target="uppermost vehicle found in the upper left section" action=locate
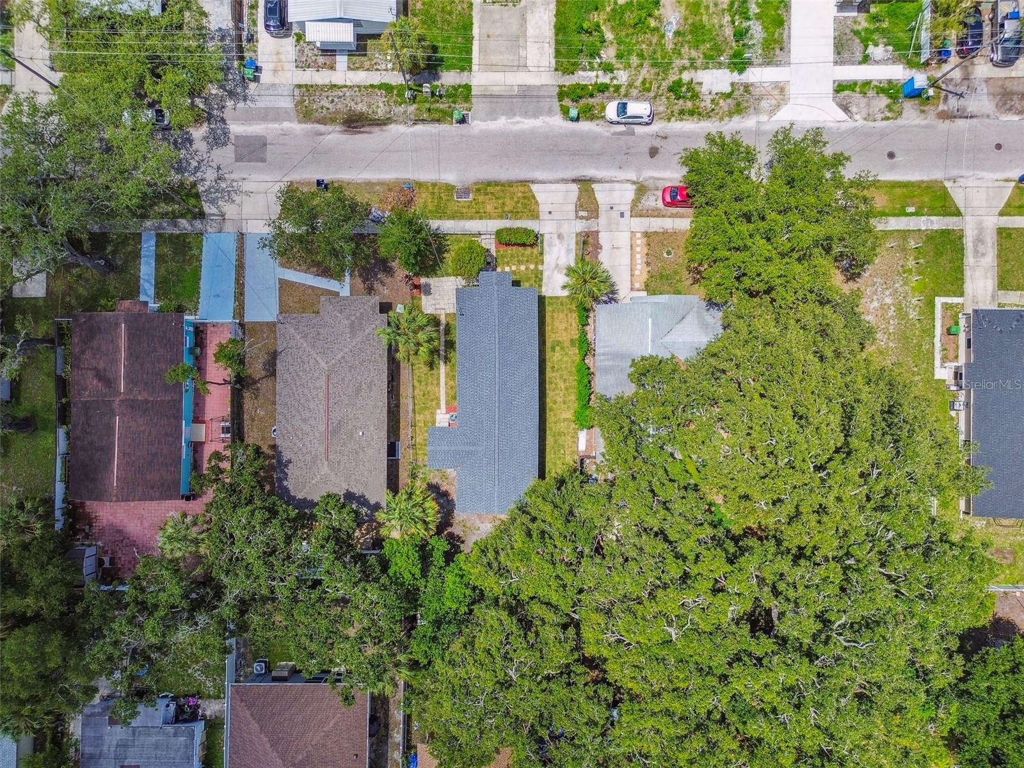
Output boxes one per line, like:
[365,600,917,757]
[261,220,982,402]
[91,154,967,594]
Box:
[263,0,288,34]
